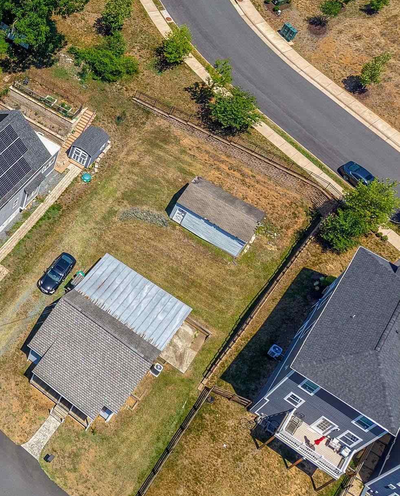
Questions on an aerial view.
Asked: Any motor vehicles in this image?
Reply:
Yes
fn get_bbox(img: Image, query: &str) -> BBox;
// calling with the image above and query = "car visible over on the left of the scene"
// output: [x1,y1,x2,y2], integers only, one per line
[39,248,79,292]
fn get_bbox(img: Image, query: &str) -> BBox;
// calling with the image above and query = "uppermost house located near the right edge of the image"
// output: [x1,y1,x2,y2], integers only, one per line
[253,246,400,454]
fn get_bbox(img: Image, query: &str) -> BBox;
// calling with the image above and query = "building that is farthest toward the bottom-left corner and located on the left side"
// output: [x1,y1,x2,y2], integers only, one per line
[28,252,192,423]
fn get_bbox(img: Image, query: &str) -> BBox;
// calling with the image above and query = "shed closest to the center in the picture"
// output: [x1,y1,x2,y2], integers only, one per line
[170,173,266,254]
